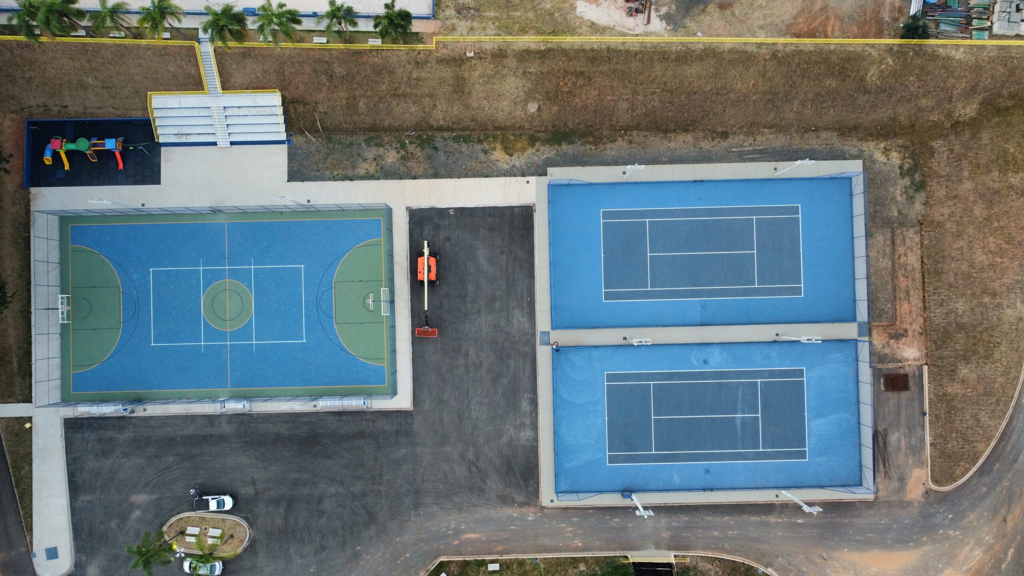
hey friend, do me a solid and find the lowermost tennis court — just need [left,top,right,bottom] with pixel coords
[553,340,863,492]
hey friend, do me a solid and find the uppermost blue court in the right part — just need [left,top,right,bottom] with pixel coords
[550,176,857,329]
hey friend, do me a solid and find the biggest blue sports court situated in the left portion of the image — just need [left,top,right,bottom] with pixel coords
[61,209,395,401]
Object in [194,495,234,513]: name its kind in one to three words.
vehicle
